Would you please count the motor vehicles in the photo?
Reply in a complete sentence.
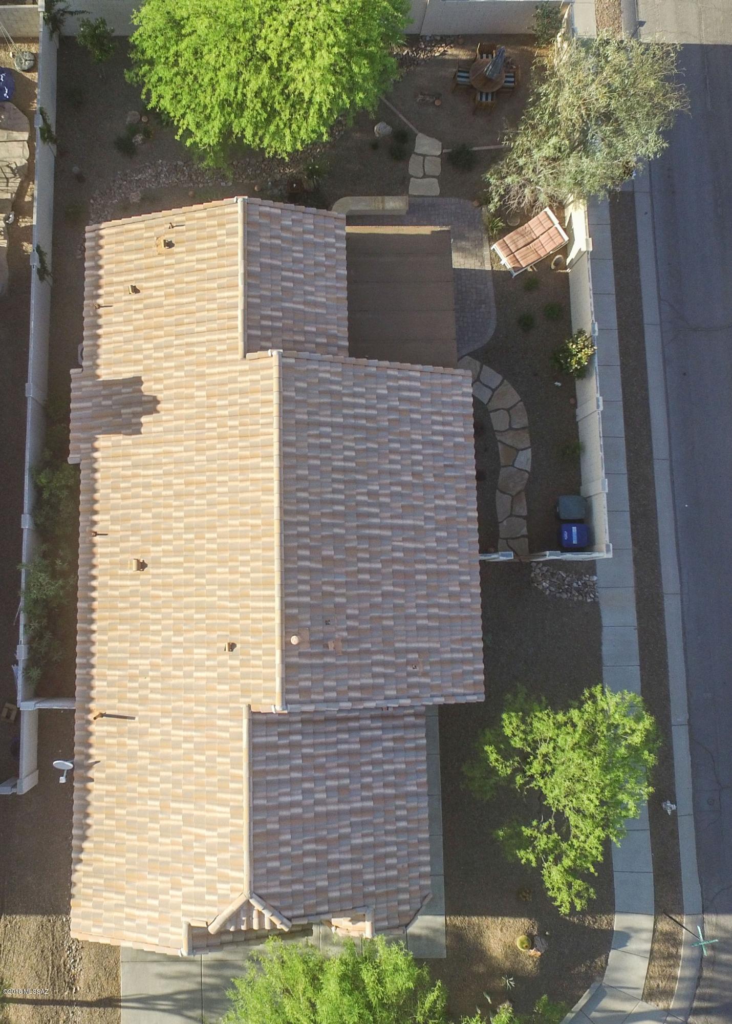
The picture shows no motor vehicles.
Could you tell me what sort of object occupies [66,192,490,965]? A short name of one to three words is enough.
house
